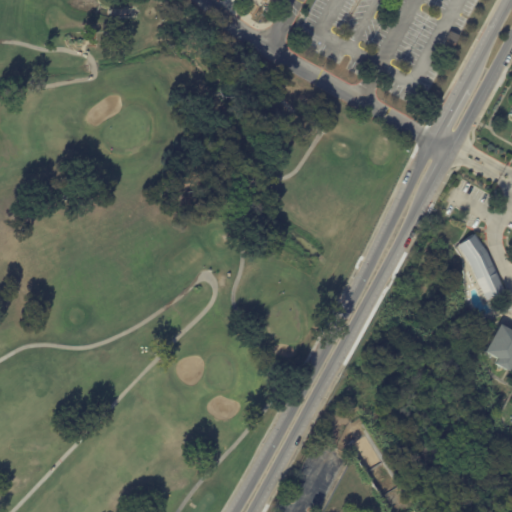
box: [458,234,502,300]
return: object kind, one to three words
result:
building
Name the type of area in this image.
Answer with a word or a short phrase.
golf course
